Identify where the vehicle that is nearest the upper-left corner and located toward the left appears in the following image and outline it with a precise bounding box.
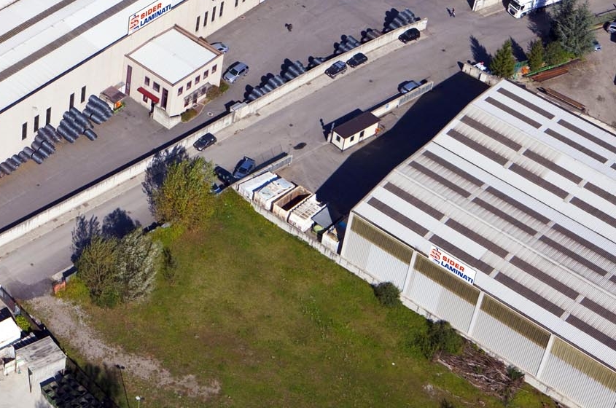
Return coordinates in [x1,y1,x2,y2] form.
[208,36,234,57]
